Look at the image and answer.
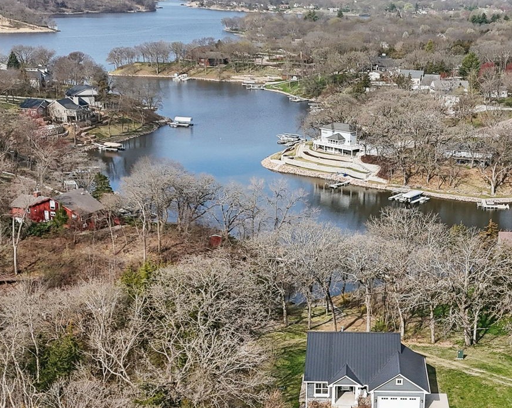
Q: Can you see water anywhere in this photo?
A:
Yes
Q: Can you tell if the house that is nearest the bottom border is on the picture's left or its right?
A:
right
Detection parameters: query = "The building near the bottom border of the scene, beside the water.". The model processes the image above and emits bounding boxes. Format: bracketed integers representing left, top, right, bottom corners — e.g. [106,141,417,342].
[301,322,430,408]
